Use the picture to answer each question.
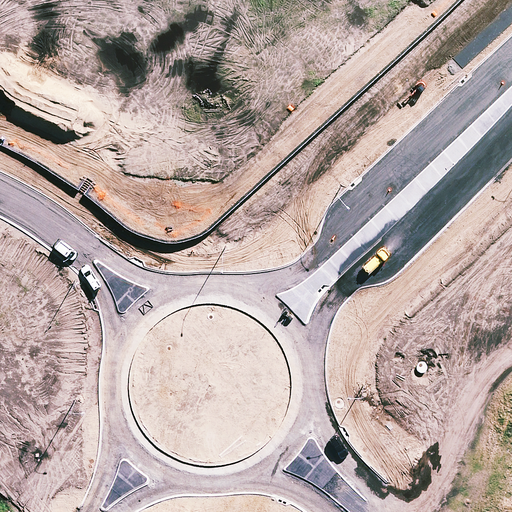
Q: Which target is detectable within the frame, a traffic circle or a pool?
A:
traffic circle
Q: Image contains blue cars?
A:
No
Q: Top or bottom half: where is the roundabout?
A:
bottom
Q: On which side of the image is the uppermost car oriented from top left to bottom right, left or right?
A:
left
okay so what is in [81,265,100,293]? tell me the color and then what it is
white car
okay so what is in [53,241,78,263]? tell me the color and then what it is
white car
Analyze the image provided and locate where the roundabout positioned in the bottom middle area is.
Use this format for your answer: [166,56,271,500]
[101,274,322,495]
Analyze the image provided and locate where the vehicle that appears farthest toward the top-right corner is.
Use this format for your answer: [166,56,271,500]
[396,80,430,109]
